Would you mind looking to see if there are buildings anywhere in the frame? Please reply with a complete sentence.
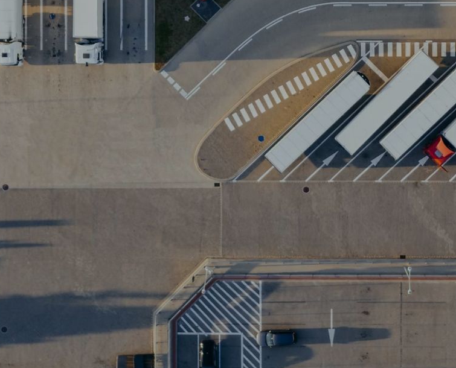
No, no building is visible in the scene.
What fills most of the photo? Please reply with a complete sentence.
For the most part, this view shows paved ground.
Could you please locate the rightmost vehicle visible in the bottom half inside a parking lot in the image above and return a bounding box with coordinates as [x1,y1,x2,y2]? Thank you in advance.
[257,328,295,349]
